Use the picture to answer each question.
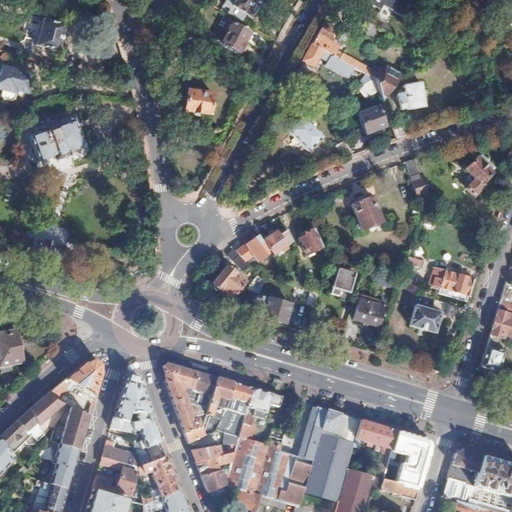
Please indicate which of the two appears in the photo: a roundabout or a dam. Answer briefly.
roundabout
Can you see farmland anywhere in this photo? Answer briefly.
No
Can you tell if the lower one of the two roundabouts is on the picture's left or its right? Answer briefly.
left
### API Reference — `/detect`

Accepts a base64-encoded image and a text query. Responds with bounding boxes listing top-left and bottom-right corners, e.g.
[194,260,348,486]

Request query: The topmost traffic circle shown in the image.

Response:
[167,214,208,255]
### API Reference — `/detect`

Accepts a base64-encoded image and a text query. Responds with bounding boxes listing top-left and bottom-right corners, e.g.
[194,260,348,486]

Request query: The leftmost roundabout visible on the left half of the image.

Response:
[111,283,185,360]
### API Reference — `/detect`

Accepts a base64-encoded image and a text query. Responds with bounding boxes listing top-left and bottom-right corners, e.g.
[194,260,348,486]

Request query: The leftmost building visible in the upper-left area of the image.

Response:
[0,66,32,102]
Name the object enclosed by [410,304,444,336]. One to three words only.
house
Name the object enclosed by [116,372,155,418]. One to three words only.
building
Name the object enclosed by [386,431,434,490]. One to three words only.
building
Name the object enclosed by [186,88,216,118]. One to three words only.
house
